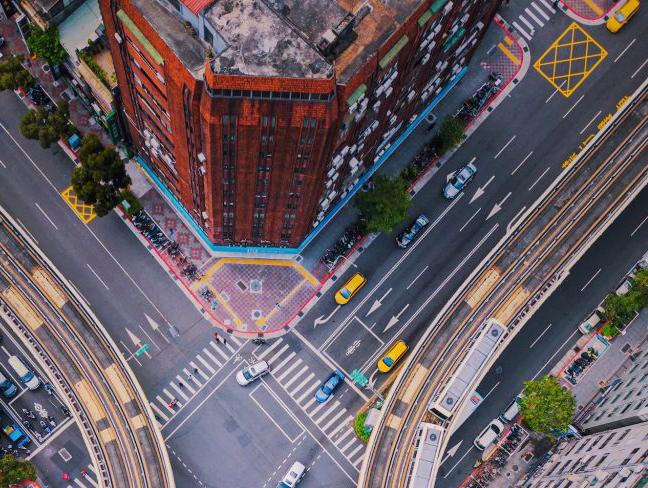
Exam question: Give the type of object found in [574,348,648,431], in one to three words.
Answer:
building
